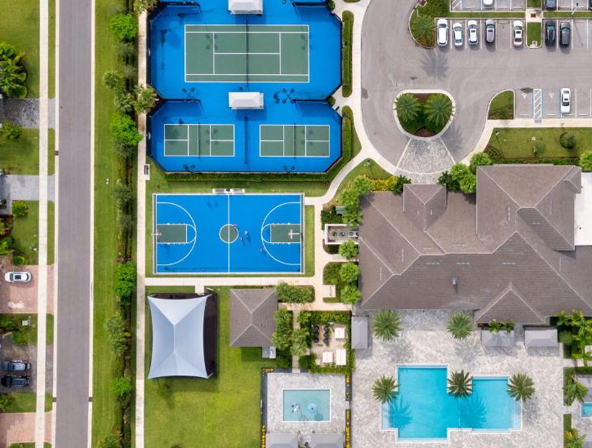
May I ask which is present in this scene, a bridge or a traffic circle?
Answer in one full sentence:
This aerial view contains a traffic circle.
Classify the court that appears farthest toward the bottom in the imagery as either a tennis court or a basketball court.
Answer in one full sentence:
It looks like the court that appears farthest toward the bottom is a basketball court.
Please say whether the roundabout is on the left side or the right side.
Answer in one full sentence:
You can find the roundabout on the right side of the picture.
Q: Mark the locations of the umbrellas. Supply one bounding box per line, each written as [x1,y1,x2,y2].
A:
[336,349,346,365]
[335,327,345,338]
[323,351,333,362]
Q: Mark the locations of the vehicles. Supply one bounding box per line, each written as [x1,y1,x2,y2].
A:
[5,271,34,283]
[4,359,33,372]
[545,0,557,10]
[436,18,449,47]
[2,374,32,387]
[544,18,557,47]
[468,21,478,46]
[453,22,464,48]
[559,87,572,114]
[559,21,571,48]
[484,18,496,45]
[482,0,493,9]
[513,20,525,47]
